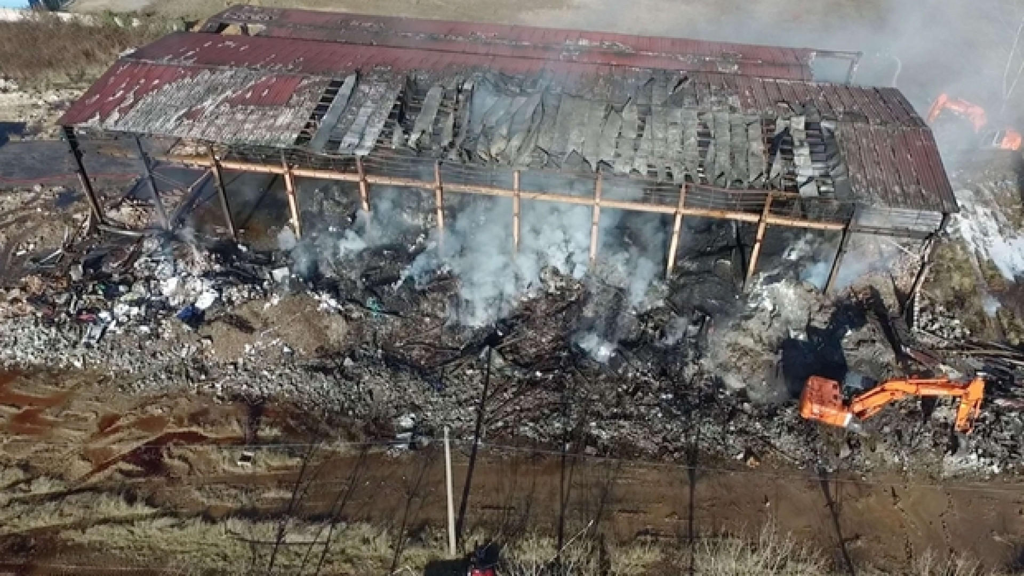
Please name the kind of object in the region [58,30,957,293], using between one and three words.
shed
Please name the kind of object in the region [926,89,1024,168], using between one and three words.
work vehicle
